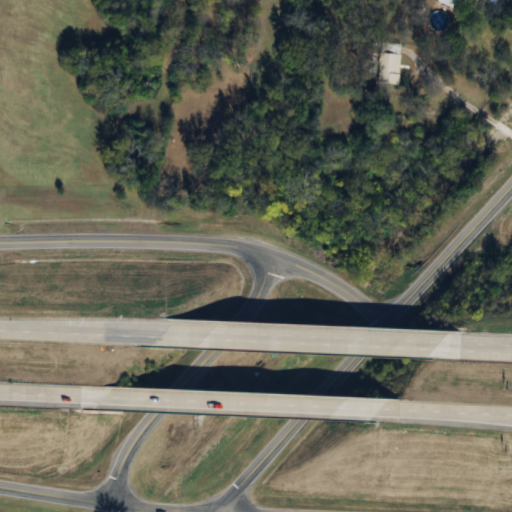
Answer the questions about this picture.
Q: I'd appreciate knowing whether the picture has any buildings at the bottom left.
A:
No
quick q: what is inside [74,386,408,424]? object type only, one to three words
overpass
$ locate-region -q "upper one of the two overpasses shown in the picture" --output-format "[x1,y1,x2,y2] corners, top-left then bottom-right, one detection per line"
[158,319,466,360]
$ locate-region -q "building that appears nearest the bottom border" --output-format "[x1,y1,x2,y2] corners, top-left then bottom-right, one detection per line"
[379,44,409,84]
